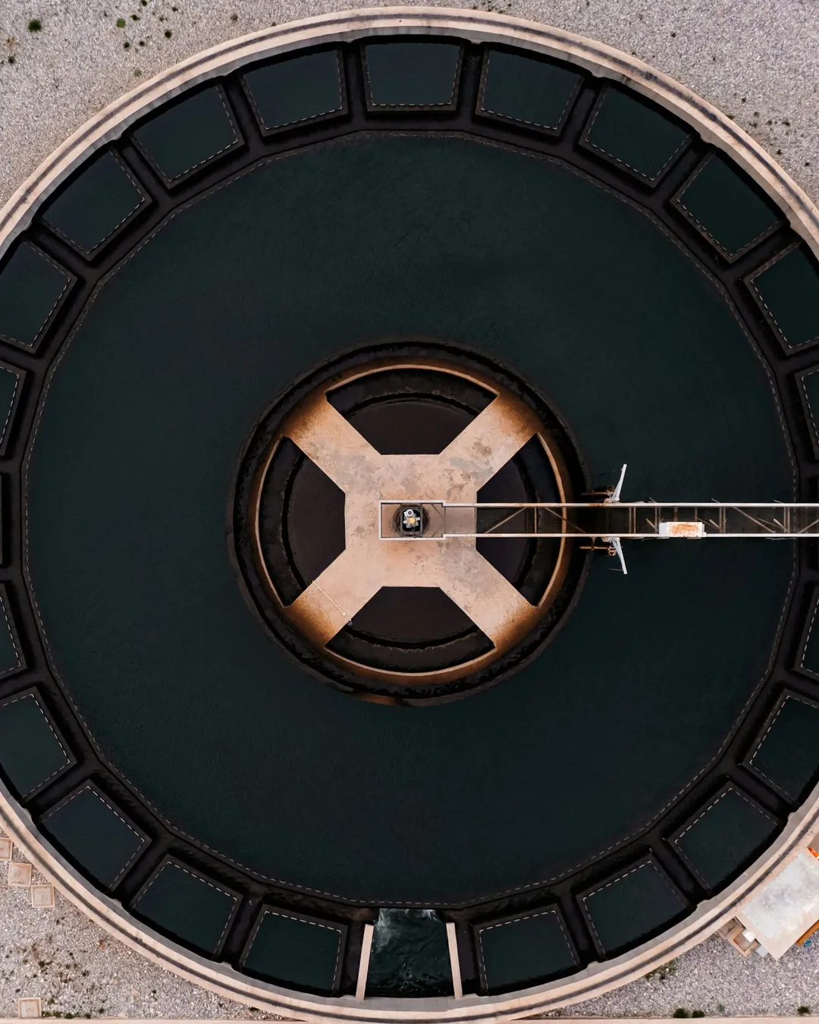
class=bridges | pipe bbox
[379,464,819,575]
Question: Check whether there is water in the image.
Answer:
Yes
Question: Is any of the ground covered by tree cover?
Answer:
No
